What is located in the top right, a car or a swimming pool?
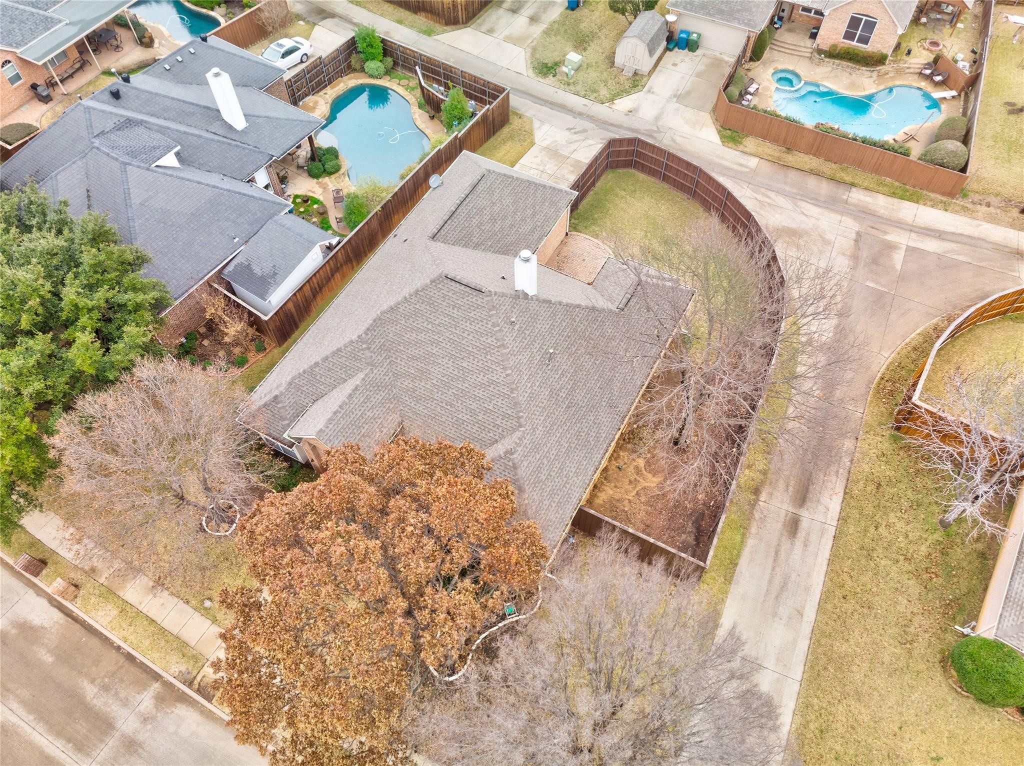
swimming pool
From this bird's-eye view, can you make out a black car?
No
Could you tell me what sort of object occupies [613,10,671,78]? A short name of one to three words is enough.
shed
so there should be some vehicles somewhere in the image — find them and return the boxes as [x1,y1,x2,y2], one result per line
[257,38,314,67]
